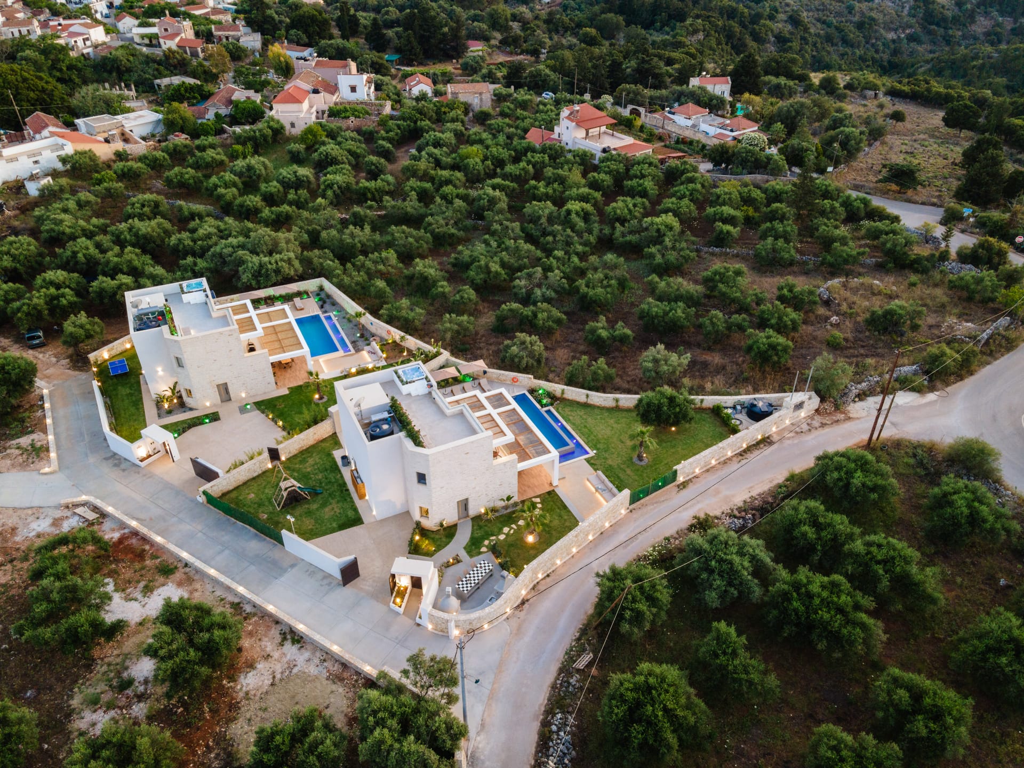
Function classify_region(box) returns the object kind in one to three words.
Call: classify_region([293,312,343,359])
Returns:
swimming pool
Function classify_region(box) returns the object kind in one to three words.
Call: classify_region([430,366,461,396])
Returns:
umbrella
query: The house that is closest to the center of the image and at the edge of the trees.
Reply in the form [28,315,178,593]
[335,361,558,527]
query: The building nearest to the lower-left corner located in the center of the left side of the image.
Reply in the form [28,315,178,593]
[131,423,189,468]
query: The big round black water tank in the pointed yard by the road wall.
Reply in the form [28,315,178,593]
[745,397,778,426]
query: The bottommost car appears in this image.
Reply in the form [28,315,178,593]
[22,322,45,345]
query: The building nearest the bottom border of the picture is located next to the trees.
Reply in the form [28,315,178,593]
[385,555,441,637]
